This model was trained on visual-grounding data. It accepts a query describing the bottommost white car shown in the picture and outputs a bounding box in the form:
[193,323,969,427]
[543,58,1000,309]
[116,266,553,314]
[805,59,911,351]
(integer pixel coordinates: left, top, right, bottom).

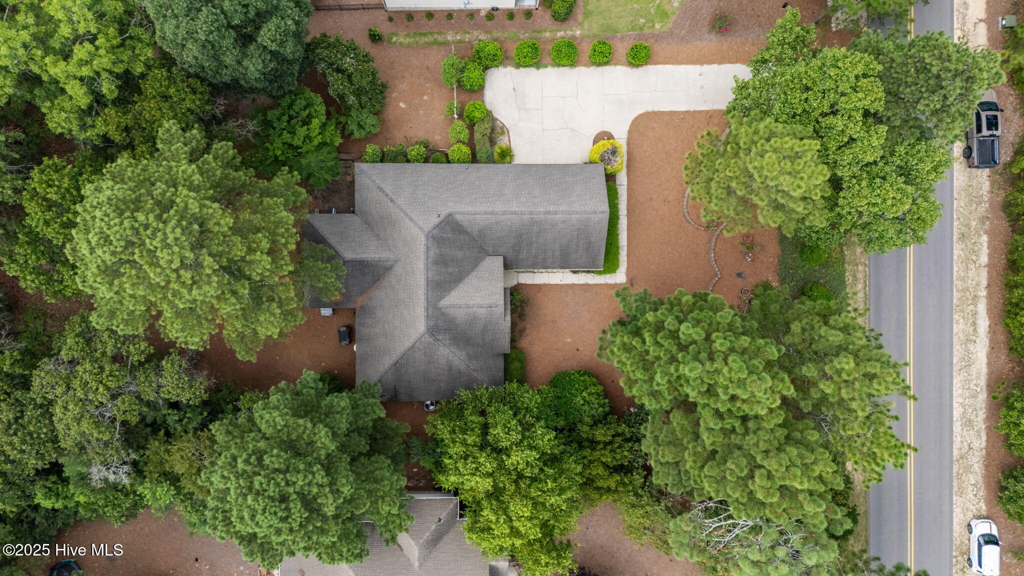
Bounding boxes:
[965,518,1001,576]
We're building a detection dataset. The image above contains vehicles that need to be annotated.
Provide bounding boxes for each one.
[961,88,1002,171]
[965,518,1001,576]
